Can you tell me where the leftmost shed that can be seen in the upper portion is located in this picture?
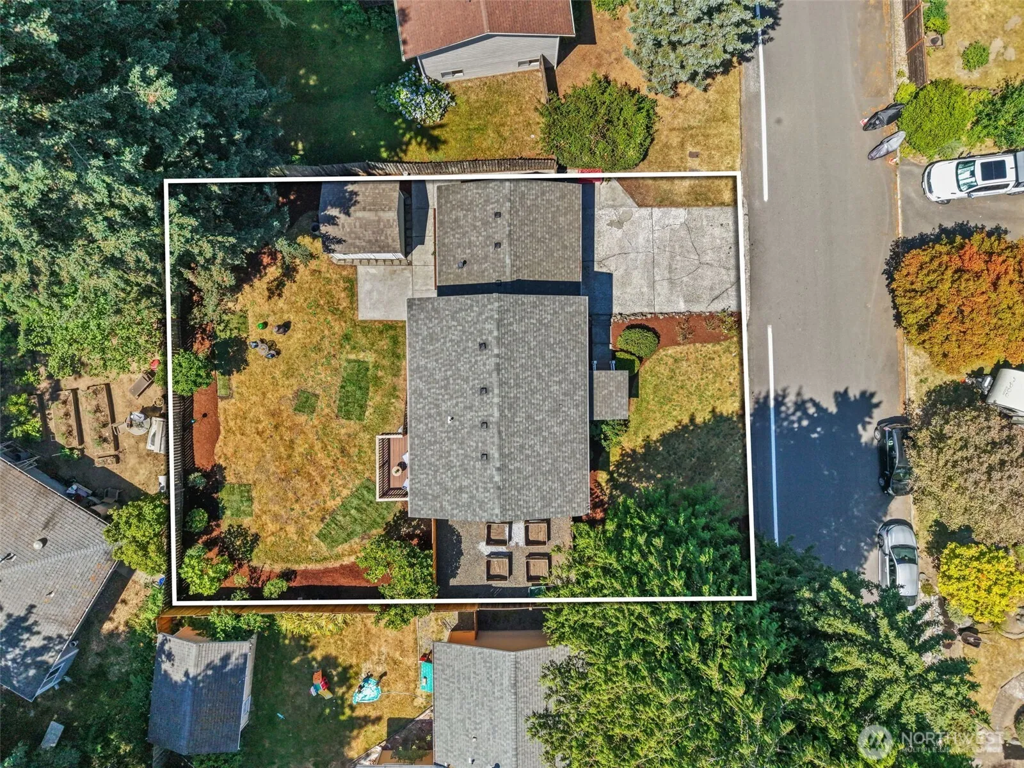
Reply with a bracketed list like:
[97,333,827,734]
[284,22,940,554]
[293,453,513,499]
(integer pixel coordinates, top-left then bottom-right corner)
[316,176,405,259]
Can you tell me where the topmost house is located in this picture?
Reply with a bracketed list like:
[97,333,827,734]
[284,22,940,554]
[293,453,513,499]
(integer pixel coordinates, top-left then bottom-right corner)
[393,0,576,84]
